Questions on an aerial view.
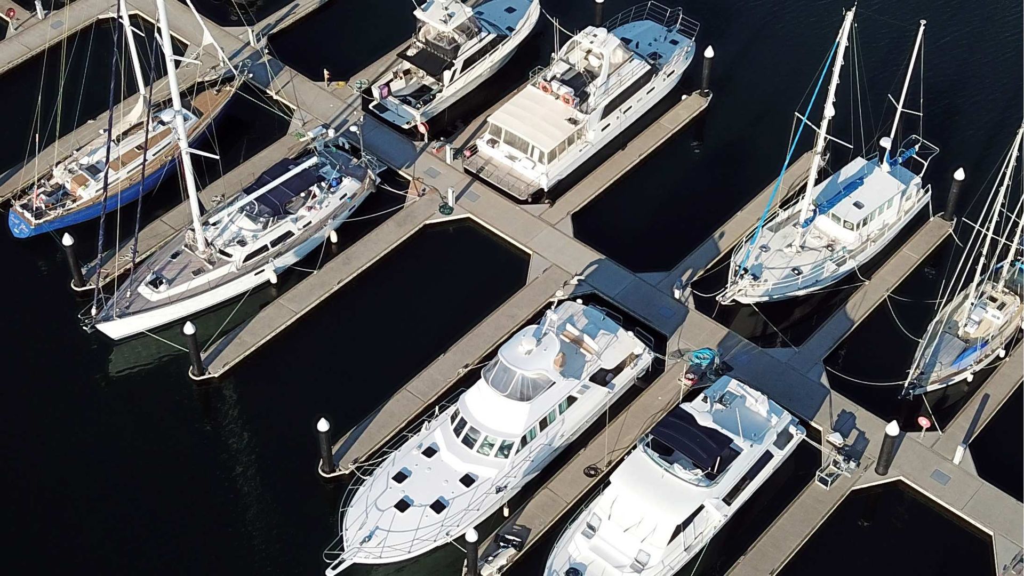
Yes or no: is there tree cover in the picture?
No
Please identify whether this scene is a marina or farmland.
marina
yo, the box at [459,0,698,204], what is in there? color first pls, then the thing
white boat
